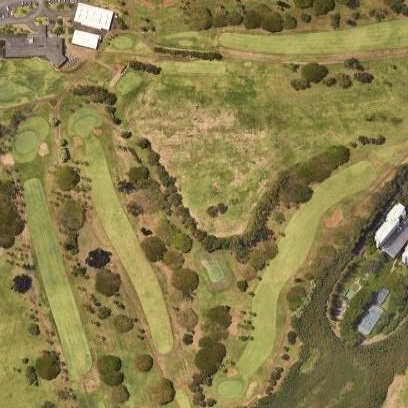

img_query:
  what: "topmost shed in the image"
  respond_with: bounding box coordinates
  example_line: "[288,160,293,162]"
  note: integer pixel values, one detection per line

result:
[73,2,113,30]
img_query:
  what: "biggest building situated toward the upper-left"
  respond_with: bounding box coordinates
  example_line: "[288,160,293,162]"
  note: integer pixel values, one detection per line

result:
[5,26,67,66]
